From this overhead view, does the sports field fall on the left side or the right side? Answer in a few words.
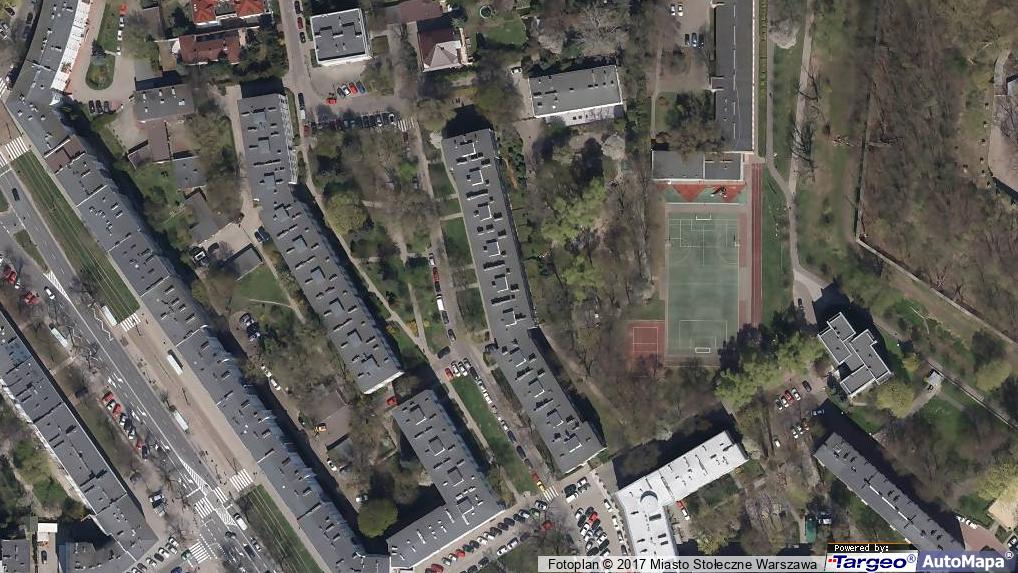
right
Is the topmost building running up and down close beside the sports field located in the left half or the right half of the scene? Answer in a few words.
right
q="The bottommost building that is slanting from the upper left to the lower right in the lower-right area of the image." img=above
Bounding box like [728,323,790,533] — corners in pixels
[809,432,989,573]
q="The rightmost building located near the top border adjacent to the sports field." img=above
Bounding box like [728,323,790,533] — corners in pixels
[708,0,754,158]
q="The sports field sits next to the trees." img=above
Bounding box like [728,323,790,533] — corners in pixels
[663,203,745,367]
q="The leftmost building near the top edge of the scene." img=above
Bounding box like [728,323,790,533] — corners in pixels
[4,0,90,156]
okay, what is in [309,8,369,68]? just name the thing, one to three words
house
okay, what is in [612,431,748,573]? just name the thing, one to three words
building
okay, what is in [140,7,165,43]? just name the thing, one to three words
shed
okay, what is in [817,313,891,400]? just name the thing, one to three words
house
